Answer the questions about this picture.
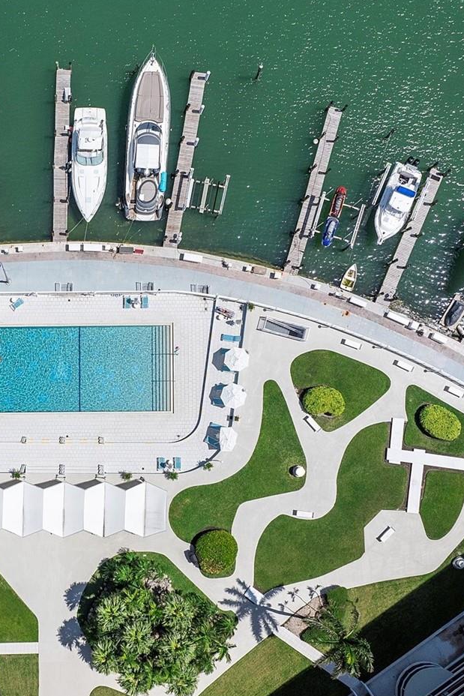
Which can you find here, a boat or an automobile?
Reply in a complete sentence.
Looking from above, you can make out a boat.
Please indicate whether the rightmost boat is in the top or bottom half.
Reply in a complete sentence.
It is in the top half that the rightmost boat appears.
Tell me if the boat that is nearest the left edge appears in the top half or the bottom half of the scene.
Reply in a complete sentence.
You can find the boat that is nearest the left edge in the top half.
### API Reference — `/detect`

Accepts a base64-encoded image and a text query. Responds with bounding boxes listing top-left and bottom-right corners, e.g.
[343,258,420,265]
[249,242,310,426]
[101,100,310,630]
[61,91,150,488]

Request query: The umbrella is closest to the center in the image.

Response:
[223,347,248,373]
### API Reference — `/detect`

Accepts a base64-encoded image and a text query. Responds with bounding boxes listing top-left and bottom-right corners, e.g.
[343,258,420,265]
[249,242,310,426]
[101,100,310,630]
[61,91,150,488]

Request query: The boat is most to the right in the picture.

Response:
[373,156,422,247]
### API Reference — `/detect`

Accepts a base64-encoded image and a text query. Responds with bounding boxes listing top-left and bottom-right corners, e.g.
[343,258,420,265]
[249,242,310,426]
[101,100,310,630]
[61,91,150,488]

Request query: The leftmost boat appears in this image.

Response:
[69,107,108,225]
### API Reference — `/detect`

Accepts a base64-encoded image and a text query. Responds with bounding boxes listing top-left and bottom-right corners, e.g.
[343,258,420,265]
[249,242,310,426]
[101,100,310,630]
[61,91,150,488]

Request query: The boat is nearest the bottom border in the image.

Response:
[340,265,357,292]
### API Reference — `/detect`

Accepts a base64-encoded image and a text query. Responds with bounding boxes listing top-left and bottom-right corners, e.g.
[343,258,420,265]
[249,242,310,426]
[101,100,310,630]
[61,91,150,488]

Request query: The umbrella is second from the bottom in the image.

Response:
[221,383,246,409]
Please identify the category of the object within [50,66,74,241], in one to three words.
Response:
pier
